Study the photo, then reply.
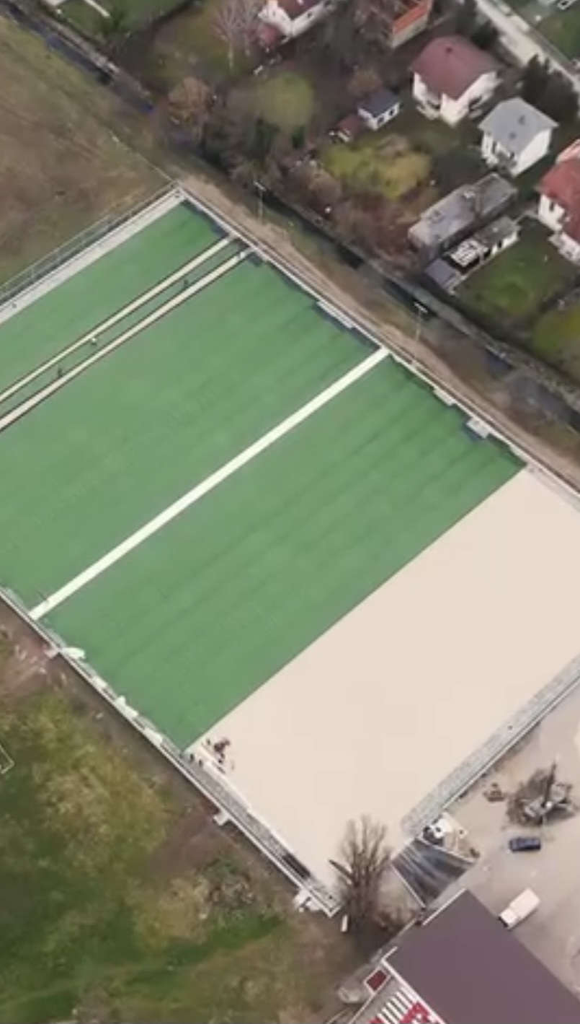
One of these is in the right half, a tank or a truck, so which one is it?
truck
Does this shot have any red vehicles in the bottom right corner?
No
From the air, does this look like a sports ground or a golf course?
sports ground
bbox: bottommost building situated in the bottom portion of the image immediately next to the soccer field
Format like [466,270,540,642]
[381,885,580,1024]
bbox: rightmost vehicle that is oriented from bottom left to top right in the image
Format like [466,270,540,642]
[500,887,542,933]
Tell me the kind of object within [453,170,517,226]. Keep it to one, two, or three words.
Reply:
shed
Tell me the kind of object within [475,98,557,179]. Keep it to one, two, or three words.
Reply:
house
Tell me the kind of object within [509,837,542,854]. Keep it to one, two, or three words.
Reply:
car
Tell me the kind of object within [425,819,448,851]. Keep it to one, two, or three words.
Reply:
work vehicle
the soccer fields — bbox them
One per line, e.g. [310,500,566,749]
[0,192,580,912]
